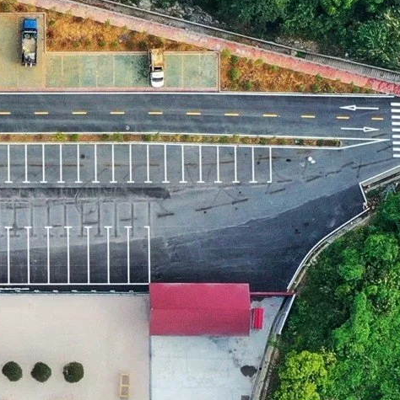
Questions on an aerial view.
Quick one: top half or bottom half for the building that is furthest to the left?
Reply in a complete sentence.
The bottom half of the photo is where the building that is furthest to the left is.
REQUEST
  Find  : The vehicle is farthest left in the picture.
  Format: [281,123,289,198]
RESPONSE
[24,17,40,64]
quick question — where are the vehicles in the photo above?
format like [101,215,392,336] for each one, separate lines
[151,46,167,86]
[24,17,40,64]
